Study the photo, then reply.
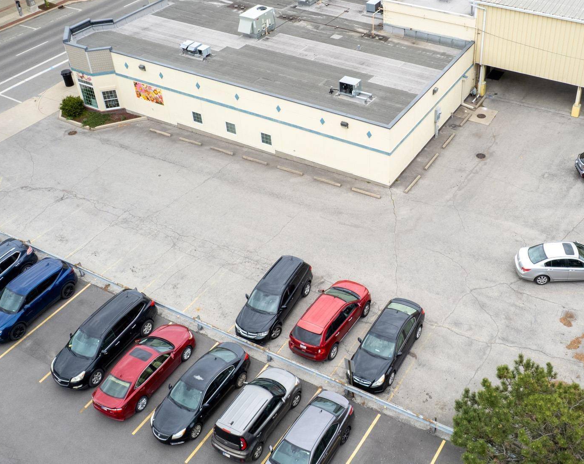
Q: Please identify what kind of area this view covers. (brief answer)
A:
parking lot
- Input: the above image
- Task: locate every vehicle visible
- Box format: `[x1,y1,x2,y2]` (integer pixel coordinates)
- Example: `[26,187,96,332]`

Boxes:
[267,399,348,464]
[0,259,75,344]
[517,241,584,285]
[49,290,157,396]
[0,239,35,292]
[289,283,371,367]
[148,345,249,450]
[93,328,193,422]
[210,372,302,464]
[350,302,423,393]
[235,254,313,347]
